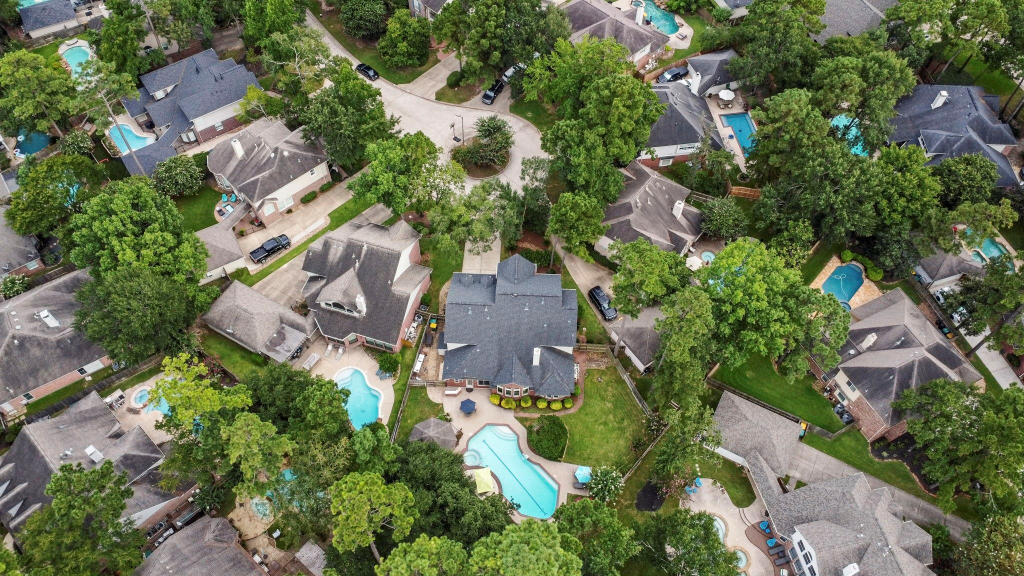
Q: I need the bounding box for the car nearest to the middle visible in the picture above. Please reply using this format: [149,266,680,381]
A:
[588,284,619,323]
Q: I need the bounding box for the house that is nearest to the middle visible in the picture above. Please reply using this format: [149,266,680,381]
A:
[438,254,577,407]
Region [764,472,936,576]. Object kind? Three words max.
house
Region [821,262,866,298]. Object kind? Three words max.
swimming pool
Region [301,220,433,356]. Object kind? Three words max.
house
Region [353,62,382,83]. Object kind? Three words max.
car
